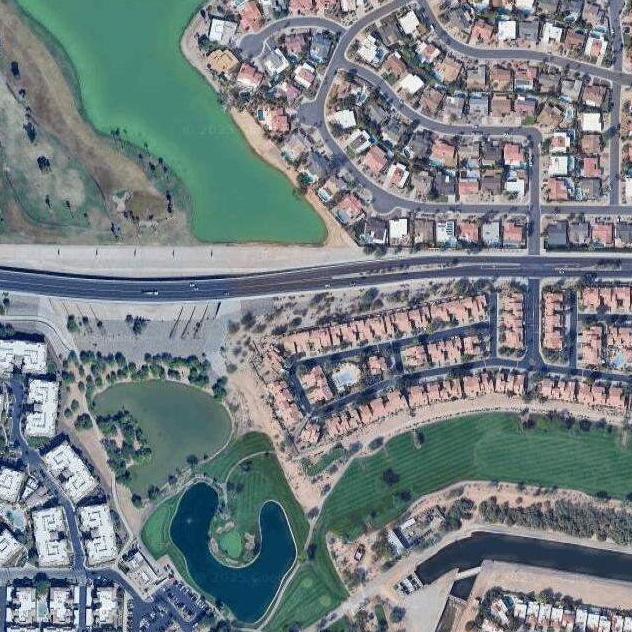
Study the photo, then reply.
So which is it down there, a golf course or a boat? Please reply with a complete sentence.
It is a golf course that can be seen here.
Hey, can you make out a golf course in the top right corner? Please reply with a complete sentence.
No, looking in the top right corner, there is no golf course.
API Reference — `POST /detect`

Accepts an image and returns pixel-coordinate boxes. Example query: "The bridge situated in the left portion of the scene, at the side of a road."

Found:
[0,263,353,303]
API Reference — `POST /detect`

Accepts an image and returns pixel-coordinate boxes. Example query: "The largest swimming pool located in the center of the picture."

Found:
[333,364,358,386]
